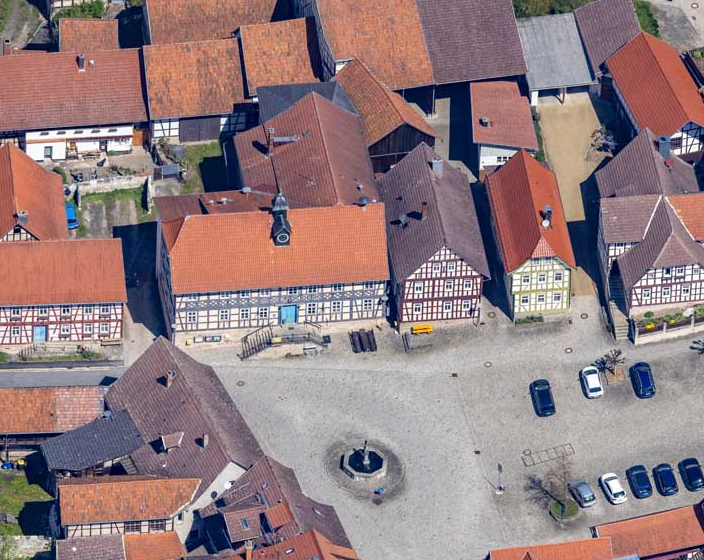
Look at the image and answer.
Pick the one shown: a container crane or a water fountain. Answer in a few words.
water fountain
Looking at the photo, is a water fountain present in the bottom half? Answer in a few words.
Yes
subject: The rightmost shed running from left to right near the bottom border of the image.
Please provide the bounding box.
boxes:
[586,502,704,560]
